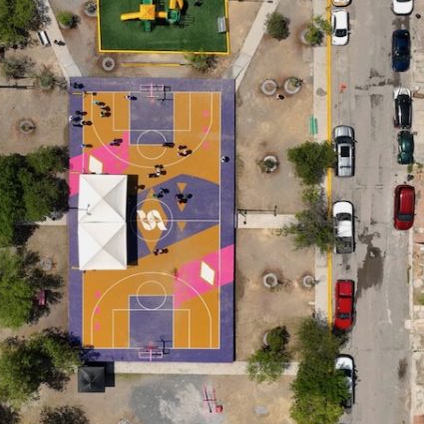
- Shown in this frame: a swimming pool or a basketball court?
basketball court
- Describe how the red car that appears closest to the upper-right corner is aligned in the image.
vertically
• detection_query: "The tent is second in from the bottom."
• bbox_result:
[79,221,129,270]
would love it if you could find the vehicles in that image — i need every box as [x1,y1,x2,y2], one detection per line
[396,129,415,166]
[333,201,355,254]
[334,126,356,178]
[333,279,355,330]
[392,0,414,16]
[394,87,415,130]
[330,9,350,46]
[394,183,416,231]
[334,354,355,404]
[391,30,412,74]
